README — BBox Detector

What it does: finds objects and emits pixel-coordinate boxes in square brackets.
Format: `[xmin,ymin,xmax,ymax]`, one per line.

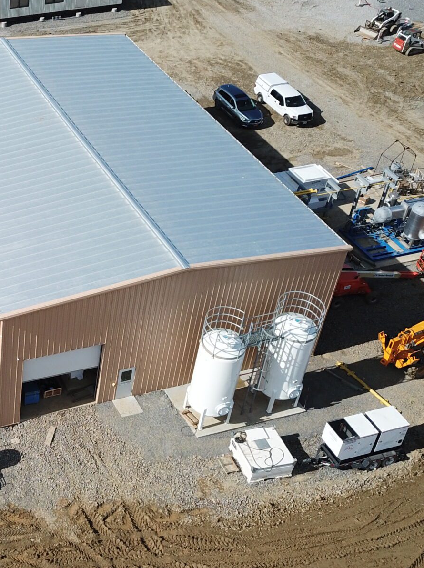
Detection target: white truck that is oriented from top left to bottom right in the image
[254,73,320,129]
